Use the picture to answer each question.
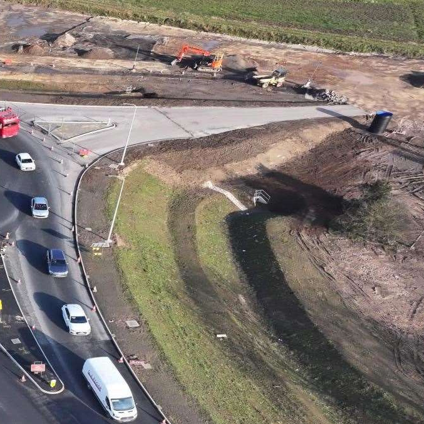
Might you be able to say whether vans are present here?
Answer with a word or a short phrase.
Yes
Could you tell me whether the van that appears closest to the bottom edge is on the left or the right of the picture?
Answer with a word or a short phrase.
left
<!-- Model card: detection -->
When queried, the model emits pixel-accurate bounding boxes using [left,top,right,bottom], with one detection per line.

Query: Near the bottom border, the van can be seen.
[88,347,138,416]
